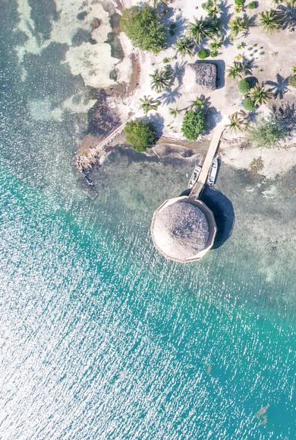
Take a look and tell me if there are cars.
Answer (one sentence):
No, there appears to be no car in this shot.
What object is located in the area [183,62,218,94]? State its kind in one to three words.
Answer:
shed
